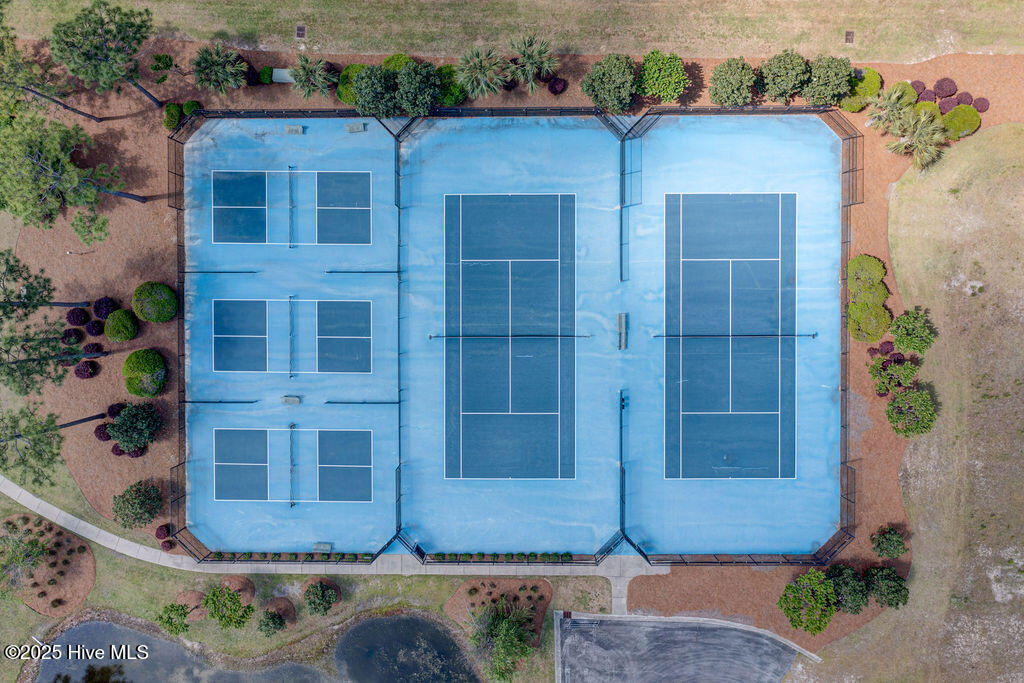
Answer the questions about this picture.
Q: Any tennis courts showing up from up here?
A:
Yes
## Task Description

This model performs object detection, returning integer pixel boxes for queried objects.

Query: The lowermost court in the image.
[186,402,400,553]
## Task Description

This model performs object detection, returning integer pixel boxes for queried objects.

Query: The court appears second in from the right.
[400,116,621,554]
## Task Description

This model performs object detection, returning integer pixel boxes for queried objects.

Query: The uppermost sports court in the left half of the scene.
[184,117,400,272]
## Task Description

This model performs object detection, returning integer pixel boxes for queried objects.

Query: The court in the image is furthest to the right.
[620,115,842,554]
